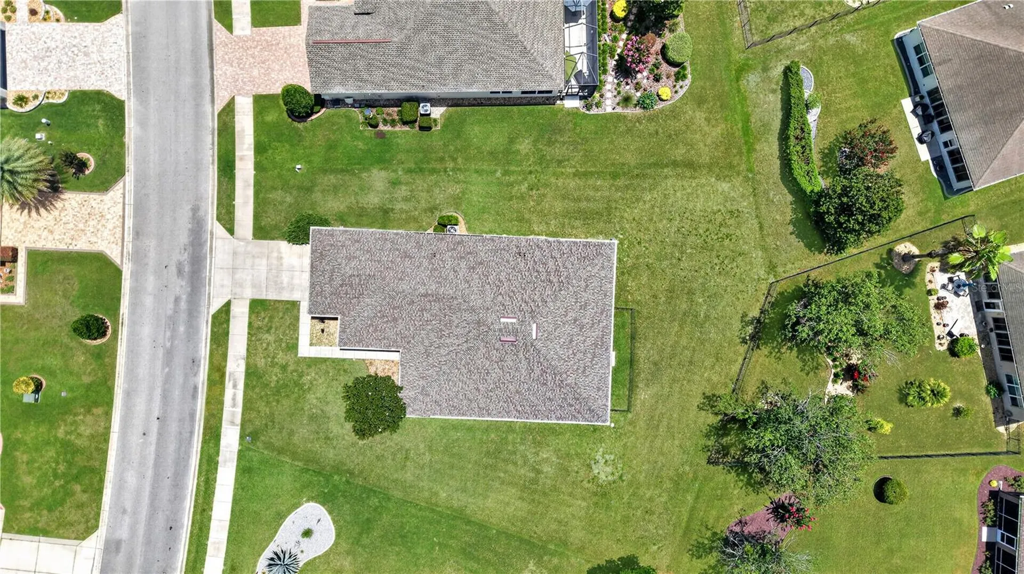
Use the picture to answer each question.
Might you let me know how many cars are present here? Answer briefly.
0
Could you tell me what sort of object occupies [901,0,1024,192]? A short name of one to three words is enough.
house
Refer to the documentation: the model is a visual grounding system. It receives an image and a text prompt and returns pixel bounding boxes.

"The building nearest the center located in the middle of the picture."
[305,226,619,426]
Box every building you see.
[305,226,619,426]
[0,14,8,109]
[994,485,1024,574]
[304,0,575,101]
[901,0,1024,192]
[981,255,1024,421]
